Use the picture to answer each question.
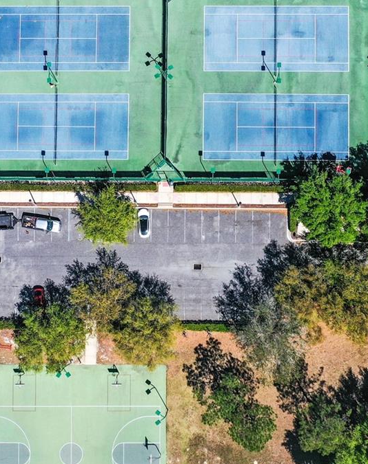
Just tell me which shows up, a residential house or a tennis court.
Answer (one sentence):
The one in the frame is a tennis court.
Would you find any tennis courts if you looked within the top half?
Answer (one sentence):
Yes, within the top half there is a tennis court.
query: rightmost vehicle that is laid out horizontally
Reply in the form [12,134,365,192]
[23,214,59,231]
